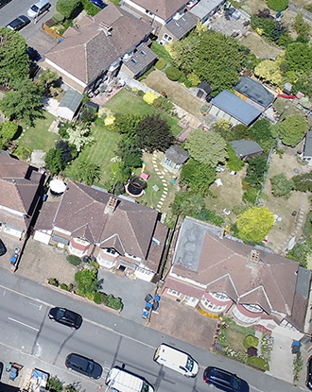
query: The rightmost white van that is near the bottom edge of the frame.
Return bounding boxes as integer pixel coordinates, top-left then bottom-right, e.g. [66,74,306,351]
[153,342,200,379]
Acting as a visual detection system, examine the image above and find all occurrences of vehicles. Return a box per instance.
[46,307,84,331]
[153,342,200,379]
[305,352,312,392]
[65,353,103,380]
[24,44,46,64]
[104,365,154,392]
[96,0,111,13]
[0,243,7,257]
[4,14,32,33]
[27,0,53,19]
[201,365,249,392]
